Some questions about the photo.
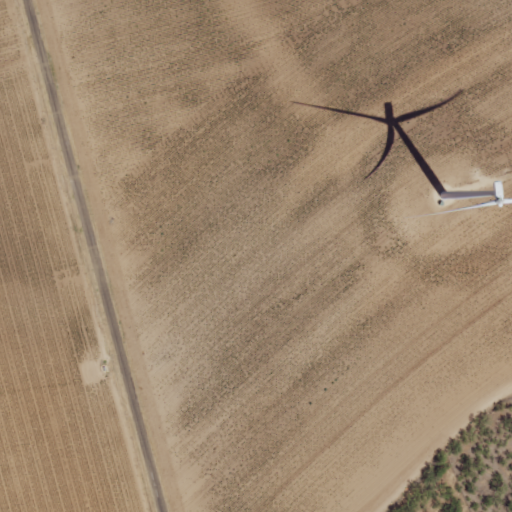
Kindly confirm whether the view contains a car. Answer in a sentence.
No, I can't see a single car in this photo.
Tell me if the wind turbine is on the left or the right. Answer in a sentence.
You can find the wind turbine on the right side of the picture.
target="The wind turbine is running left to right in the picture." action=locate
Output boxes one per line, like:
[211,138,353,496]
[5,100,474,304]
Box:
[418,182,512,218]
